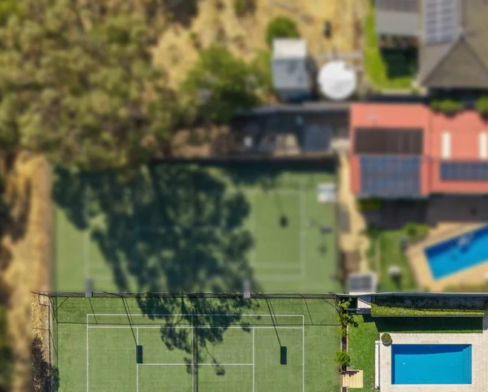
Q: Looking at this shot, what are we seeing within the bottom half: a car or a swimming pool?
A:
swimming pool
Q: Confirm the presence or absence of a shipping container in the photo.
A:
No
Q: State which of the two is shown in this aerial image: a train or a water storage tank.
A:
water storage tank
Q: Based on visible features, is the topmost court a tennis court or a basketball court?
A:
tennis court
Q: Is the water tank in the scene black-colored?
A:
No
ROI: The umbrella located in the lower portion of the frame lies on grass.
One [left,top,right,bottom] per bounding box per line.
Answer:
[387,264,400,278]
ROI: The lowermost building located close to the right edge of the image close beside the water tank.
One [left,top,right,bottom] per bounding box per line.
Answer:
[351,103,488,200]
